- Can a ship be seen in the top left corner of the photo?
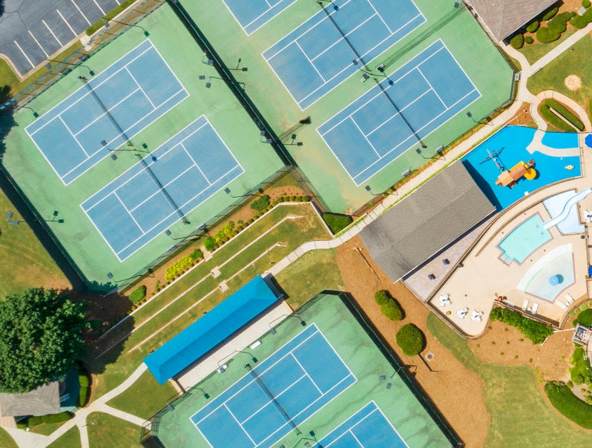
No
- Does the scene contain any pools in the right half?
Yes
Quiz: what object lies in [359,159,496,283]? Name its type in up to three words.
building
